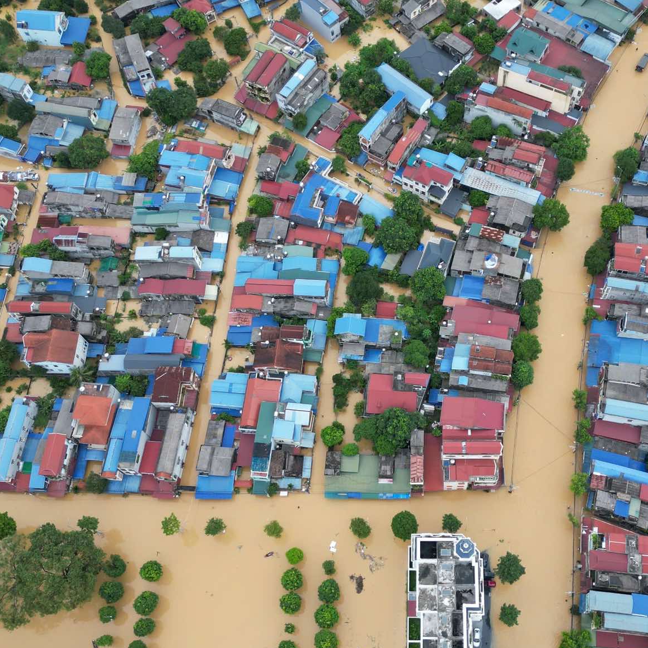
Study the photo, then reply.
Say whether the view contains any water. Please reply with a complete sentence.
Yes, some water is visible.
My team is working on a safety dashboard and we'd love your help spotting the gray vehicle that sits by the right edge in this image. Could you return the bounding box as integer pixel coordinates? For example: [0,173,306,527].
[632,53,648,77]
